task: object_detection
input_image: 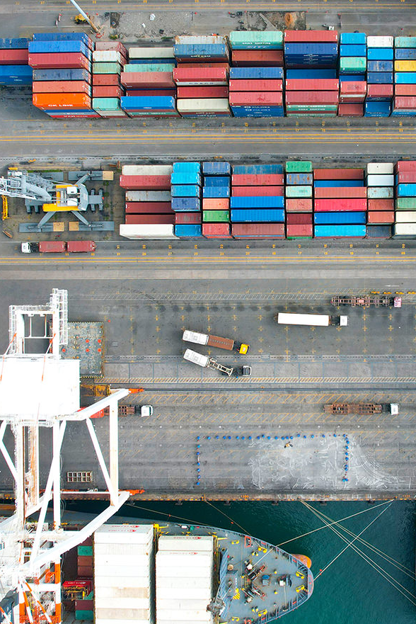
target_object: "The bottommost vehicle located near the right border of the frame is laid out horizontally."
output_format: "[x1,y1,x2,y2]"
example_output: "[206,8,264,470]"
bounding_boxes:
[324,404,403,417]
